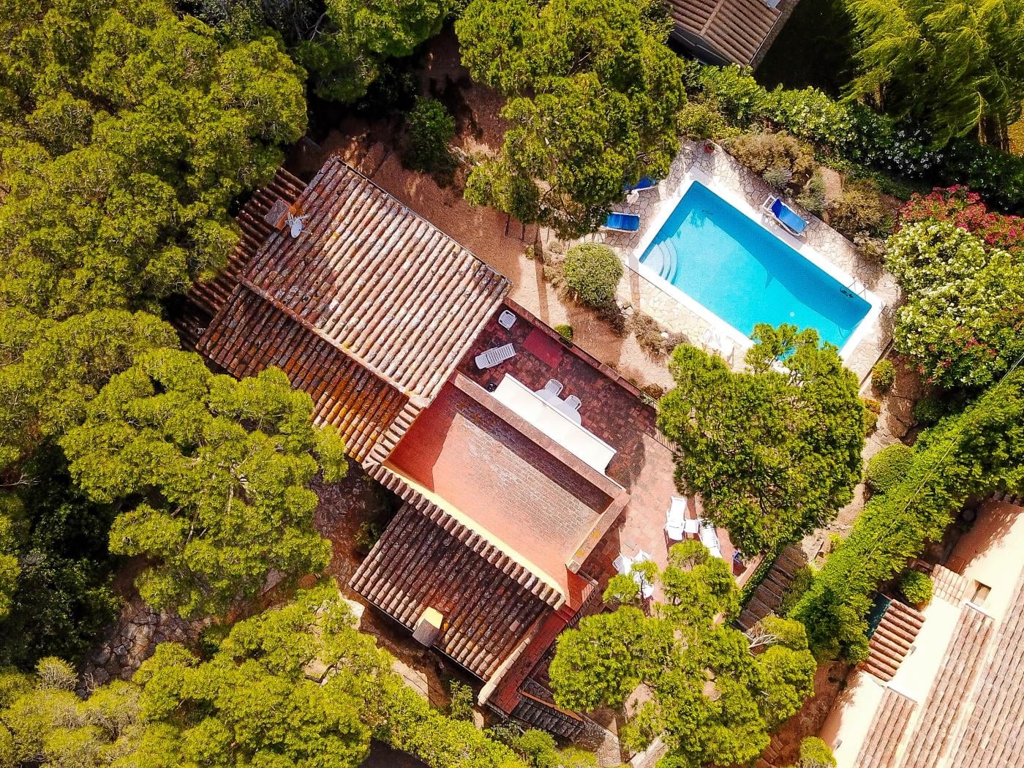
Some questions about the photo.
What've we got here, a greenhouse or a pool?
pool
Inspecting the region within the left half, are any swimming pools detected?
No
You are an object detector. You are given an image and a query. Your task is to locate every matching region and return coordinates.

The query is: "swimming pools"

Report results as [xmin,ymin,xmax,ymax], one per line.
[622,160,894,397]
